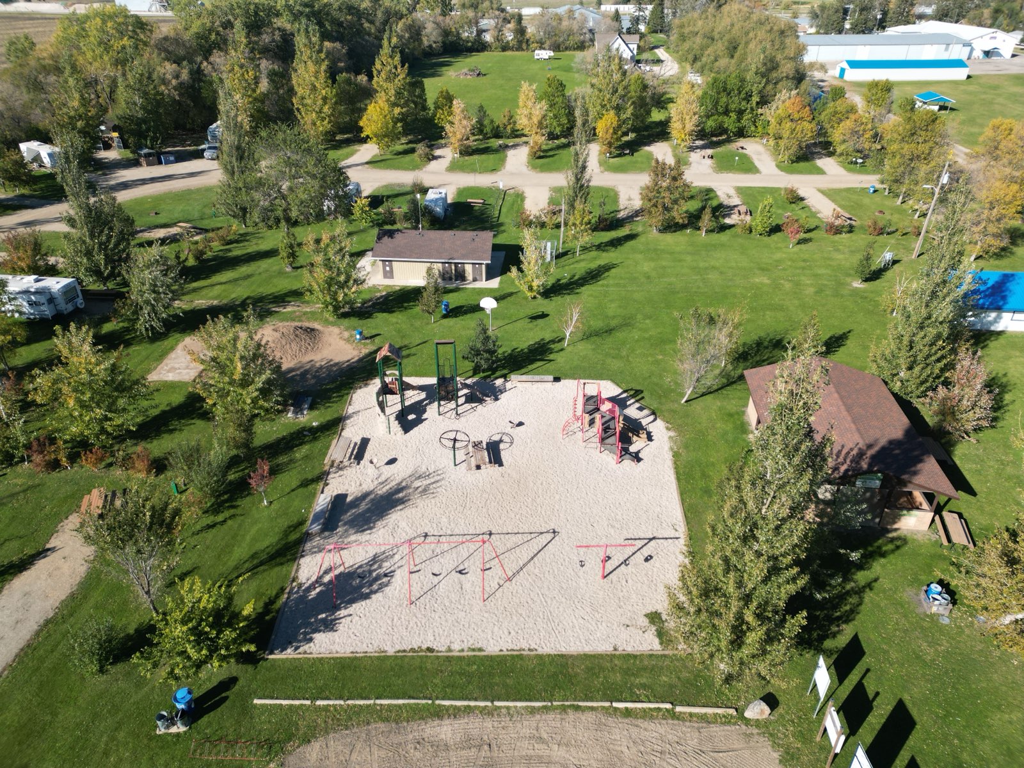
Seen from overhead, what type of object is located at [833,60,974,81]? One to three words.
shed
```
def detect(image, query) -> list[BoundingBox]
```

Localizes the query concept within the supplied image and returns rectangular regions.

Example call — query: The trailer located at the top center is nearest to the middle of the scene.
[426,177,455,218]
